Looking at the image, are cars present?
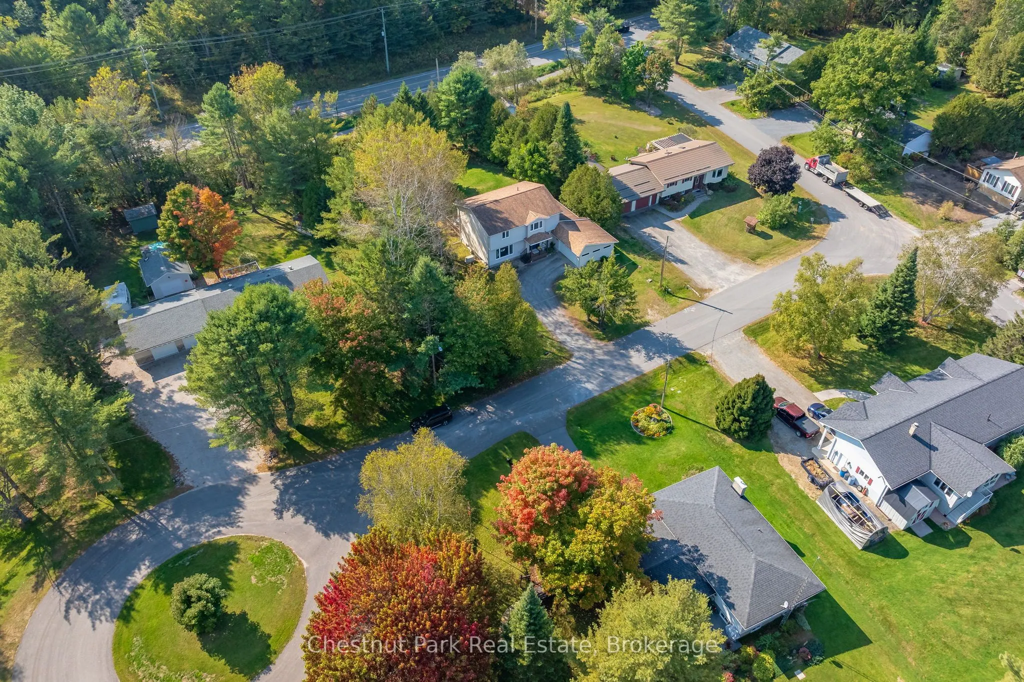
Yes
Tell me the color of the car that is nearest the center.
black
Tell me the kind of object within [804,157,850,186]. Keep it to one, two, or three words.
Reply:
truck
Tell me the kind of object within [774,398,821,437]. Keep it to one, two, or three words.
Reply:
truck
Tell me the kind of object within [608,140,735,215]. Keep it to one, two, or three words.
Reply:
house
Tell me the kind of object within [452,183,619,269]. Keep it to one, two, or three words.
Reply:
house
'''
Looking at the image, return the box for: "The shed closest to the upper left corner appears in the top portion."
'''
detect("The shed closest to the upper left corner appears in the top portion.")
[124,205,160,233]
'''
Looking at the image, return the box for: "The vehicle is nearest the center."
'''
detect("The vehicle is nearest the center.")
[410,404,455,434]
